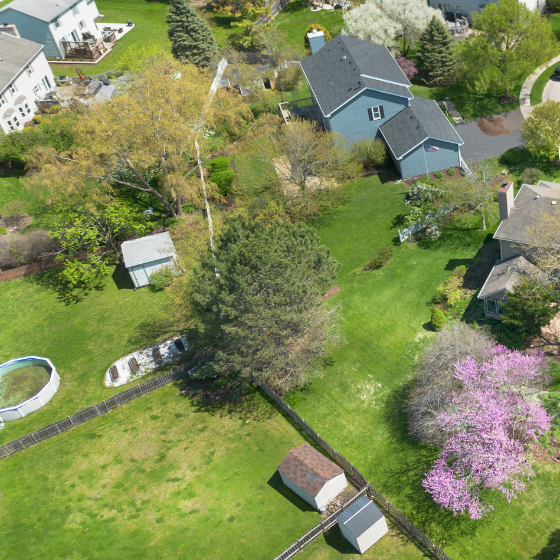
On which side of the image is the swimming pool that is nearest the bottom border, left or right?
left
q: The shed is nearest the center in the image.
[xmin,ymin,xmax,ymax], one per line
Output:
[116,232,175,289]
